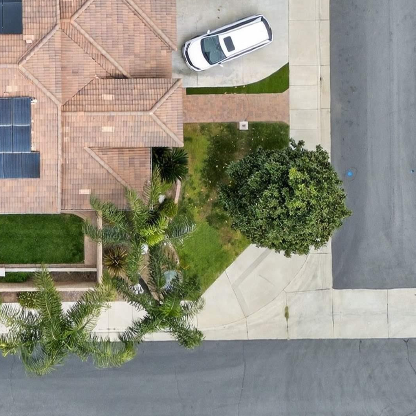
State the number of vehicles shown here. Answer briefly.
1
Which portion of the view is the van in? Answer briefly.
top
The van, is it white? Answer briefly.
Yes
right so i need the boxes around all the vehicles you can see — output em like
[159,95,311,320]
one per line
[178,13,272,72]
